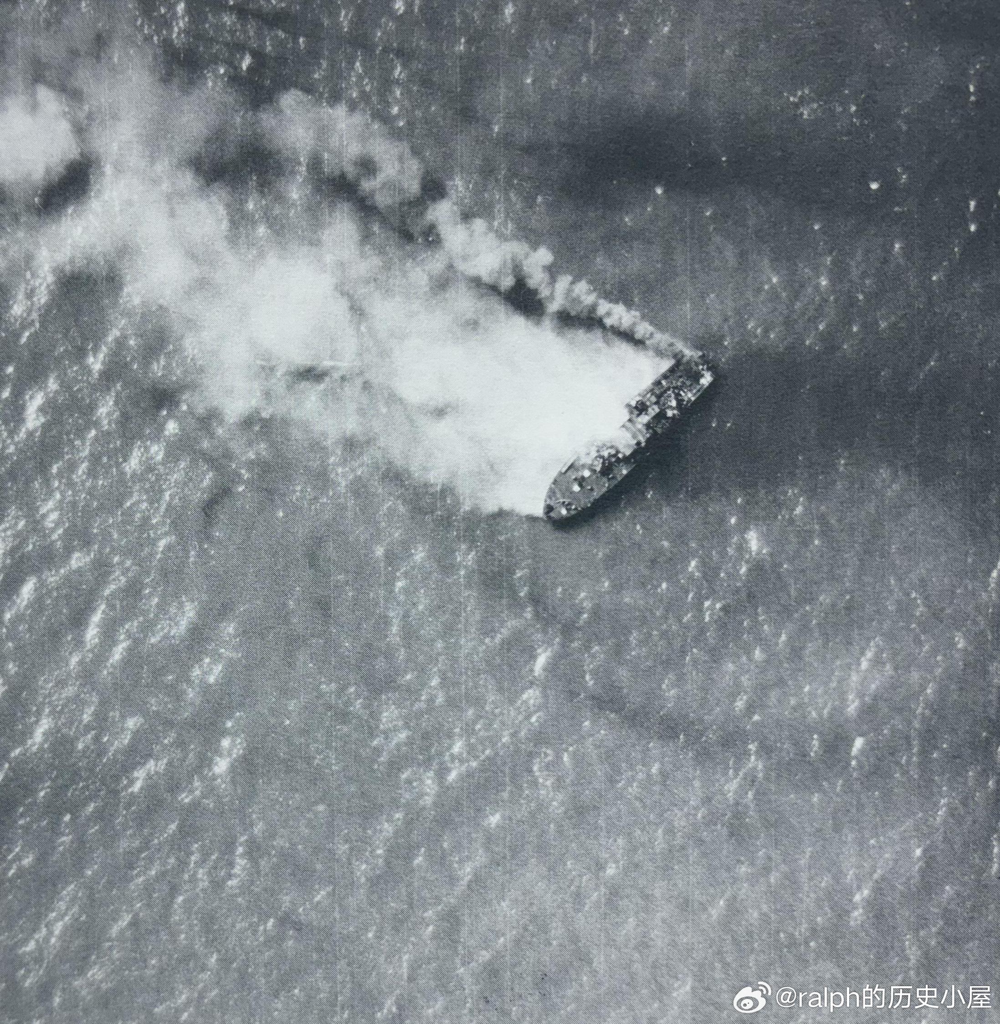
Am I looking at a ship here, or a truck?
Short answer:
ship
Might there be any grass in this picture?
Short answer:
No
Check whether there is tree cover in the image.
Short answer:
No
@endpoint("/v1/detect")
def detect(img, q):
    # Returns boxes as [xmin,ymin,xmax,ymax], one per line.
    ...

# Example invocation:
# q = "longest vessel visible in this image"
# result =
[544,349,716,525]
